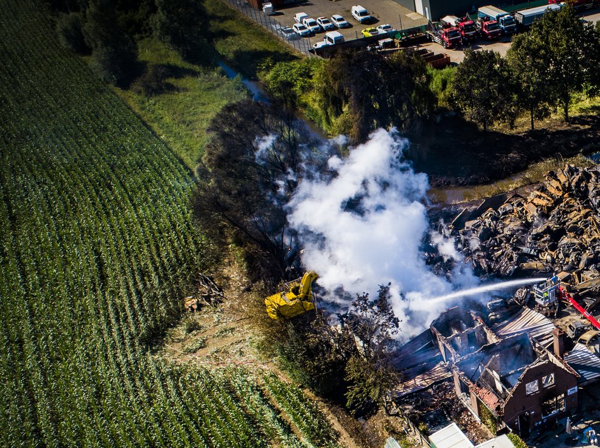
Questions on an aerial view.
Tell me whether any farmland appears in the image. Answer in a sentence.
Yes, some farmland is visible.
